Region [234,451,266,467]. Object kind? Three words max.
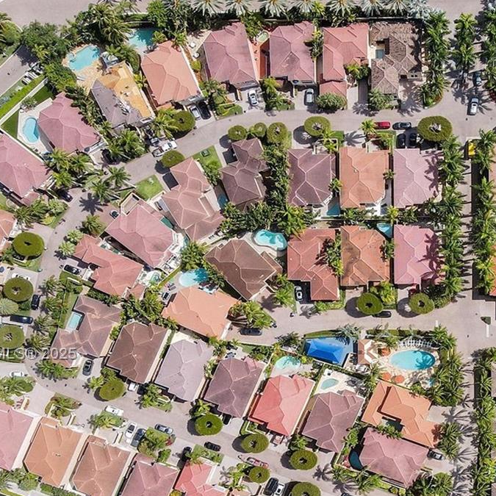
boat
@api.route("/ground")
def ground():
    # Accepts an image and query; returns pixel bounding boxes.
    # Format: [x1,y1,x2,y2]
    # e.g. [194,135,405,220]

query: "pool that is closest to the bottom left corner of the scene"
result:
[67,310,83,331]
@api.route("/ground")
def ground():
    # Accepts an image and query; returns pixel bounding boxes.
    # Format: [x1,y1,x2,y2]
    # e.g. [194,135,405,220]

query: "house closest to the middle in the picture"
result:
[206,238,285,299]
